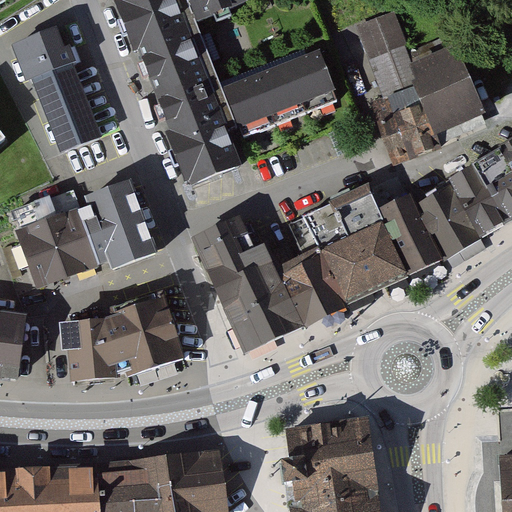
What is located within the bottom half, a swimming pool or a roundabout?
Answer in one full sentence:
The one visible within the bottom half is a roundabout.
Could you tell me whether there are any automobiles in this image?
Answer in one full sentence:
Yes, there is an automobile in the image.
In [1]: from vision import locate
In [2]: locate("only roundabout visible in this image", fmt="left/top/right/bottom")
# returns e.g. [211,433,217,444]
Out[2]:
[348,312,462,424]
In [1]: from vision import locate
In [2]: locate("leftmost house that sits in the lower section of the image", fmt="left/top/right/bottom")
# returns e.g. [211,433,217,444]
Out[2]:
[0,310,28,380]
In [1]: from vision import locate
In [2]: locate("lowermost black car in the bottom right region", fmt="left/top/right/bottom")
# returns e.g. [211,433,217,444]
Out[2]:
[379,408,394,431]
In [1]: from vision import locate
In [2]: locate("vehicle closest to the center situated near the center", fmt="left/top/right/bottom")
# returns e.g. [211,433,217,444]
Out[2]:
[270,222,284,242]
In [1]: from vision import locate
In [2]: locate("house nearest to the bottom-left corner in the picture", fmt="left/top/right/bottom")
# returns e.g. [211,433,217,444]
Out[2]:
[0,464,104,512]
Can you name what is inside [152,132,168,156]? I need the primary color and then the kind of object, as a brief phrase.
white car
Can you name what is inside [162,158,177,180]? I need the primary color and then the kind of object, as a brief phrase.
white vehicle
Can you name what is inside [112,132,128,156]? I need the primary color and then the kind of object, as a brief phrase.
white car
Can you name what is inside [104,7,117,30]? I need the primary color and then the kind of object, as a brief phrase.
white vehicle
